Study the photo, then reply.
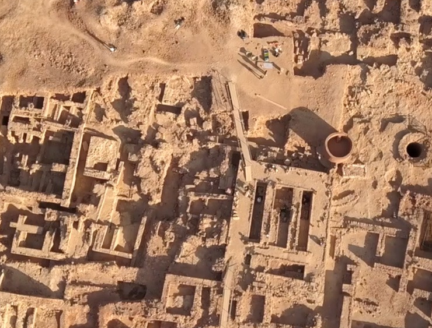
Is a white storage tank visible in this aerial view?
No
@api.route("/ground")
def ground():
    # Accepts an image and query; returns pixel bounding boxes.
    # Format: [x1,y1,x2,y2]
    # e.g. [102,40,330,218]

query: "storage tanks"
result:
[324,137,352,165]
